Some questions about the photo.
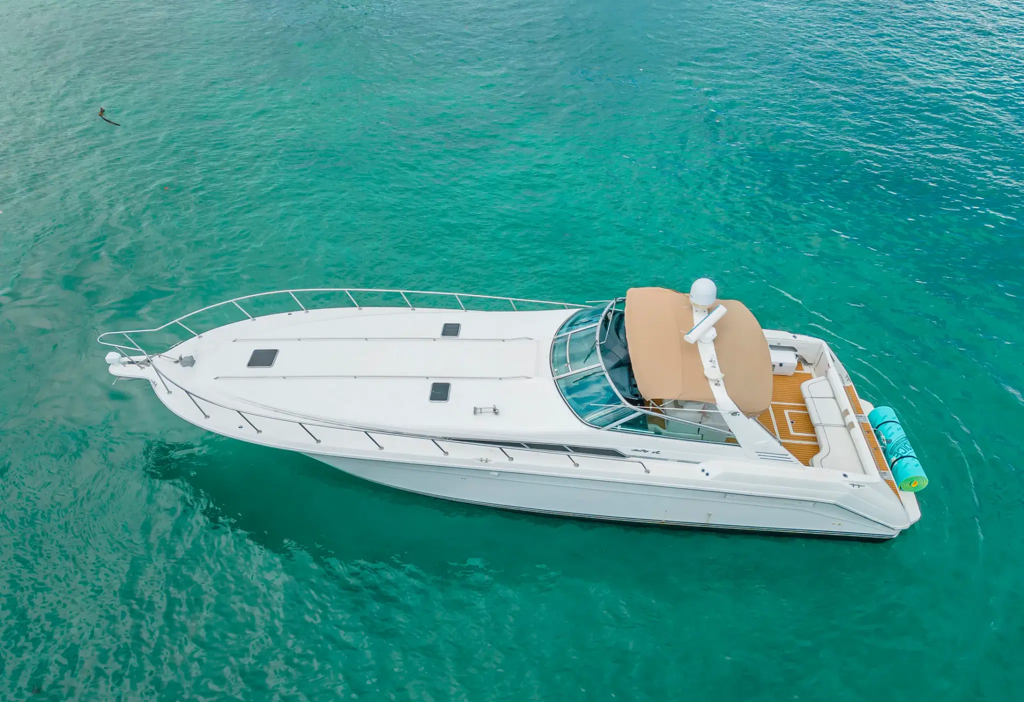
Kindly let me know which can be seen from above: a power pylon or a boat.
boat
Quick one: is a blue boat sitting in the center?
No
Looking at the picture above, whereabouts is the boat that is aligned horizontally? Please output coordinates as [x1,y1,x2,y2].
[97,280,918,539]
